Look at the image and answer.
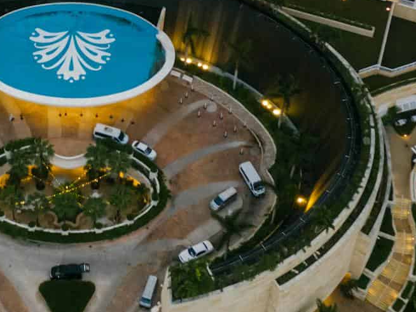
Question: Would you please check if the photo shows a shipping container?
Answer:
No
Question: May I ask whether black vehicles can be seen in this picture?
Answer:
Yes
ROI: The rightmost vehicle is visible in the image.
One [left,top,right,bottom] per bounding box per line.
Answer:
[238,157,266,196]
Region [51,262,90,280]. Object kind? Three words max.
car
